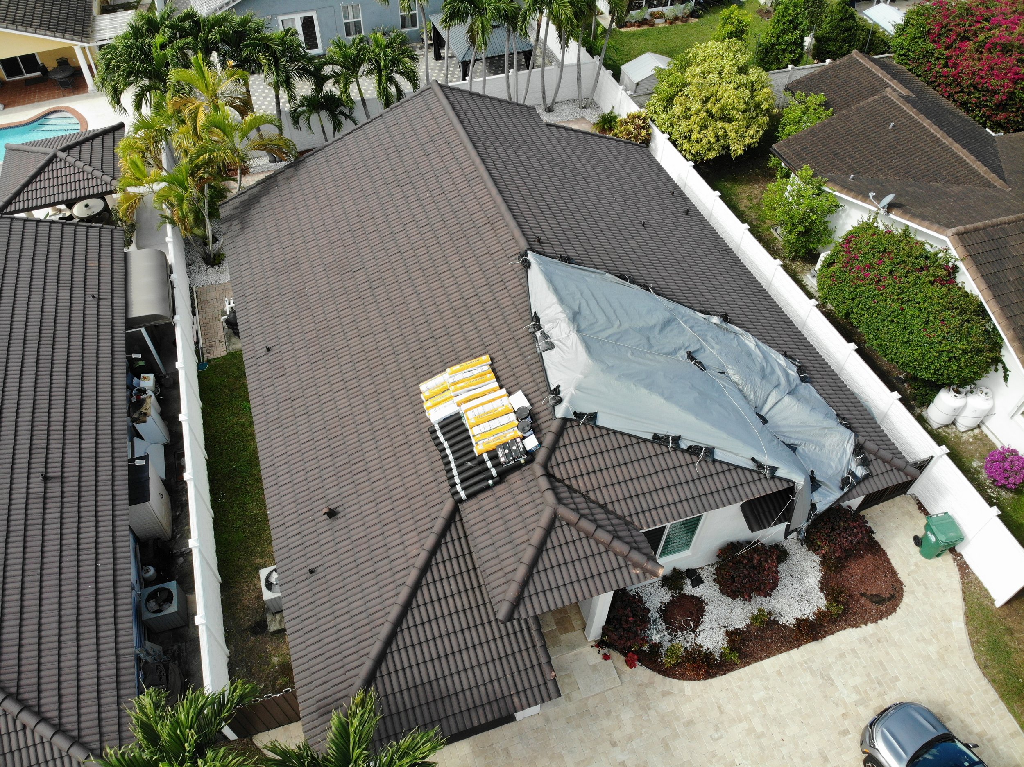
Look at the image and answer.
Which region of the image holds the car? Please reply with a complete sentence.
The car appears toward the bottom right of the photo.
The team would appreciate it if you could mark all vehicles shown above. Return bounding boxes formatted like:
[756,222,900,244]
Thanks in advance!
[861,695,996,767]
